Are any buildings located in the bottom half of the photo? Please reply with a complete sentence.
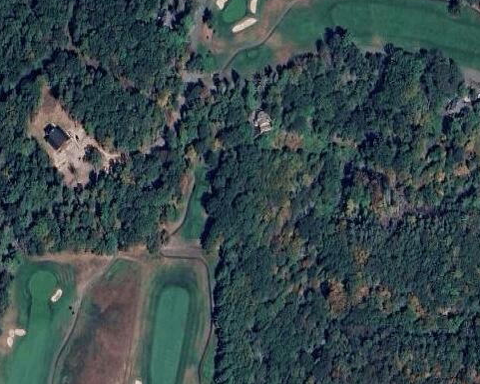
No, in the bottom half of the photo there is no building.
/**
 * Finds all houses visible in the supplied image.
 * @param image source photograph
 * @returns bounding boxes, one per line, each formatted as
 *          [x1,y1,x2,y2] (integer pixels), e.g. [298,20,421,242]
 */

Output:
[160,11,177,27]
[37,121,72,148]
[252,111,272,132]
[449,93,469,113]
